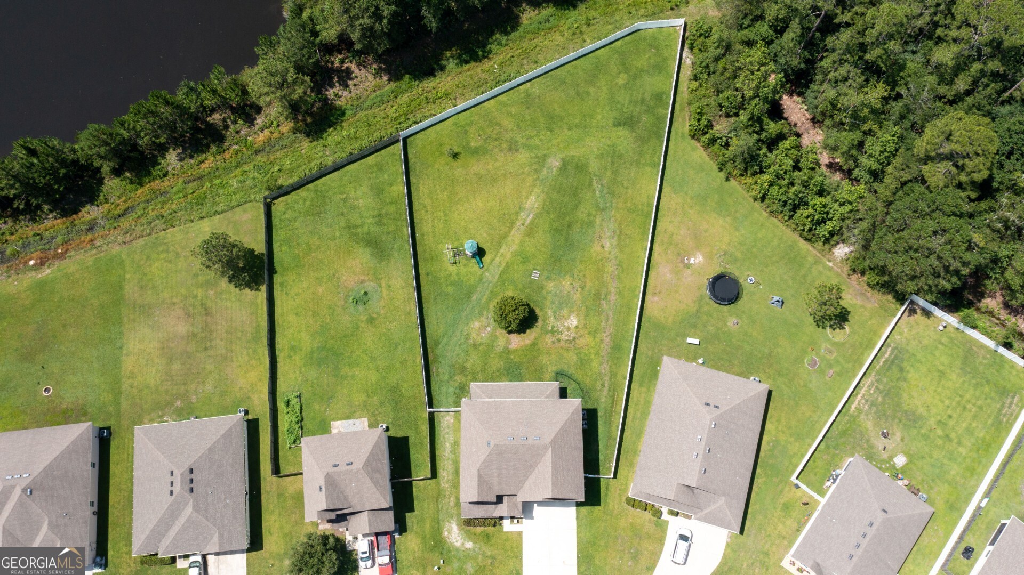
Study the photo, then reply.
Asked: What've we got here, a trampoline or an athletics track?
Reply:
trampoline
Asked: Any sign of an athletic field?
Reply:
No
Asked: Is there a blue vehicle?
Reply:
No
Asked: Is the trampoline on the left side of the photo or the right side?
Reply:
right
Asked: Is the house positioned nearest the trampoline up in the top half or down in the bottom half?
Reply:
bottom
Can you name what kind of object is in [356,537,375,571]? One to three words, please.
car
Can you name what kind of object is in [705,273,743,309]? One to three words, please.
trampoline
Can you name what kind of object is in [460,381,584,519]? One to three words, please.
house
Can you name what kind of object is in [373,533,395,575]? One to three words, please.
truck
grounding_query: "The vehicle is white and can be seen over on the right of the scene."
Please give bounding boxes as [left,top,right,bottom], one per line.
[670,526,693,566]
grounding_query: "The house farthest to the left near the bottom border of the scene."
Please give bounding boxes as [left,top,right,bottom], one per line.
[0,422,99,575]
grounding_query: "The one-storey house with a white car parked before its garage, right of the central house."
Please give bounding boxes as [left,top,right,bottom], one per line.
[628,355,770,535]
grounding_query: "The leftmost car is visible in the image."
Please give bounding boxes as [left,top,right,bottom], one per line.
[186,552,206,575]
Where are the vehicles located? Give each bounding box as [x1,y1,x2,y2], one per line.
[356,537,375,571]
[670,526,693,566]
[186,552,206,575]
[373,533,395,575]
